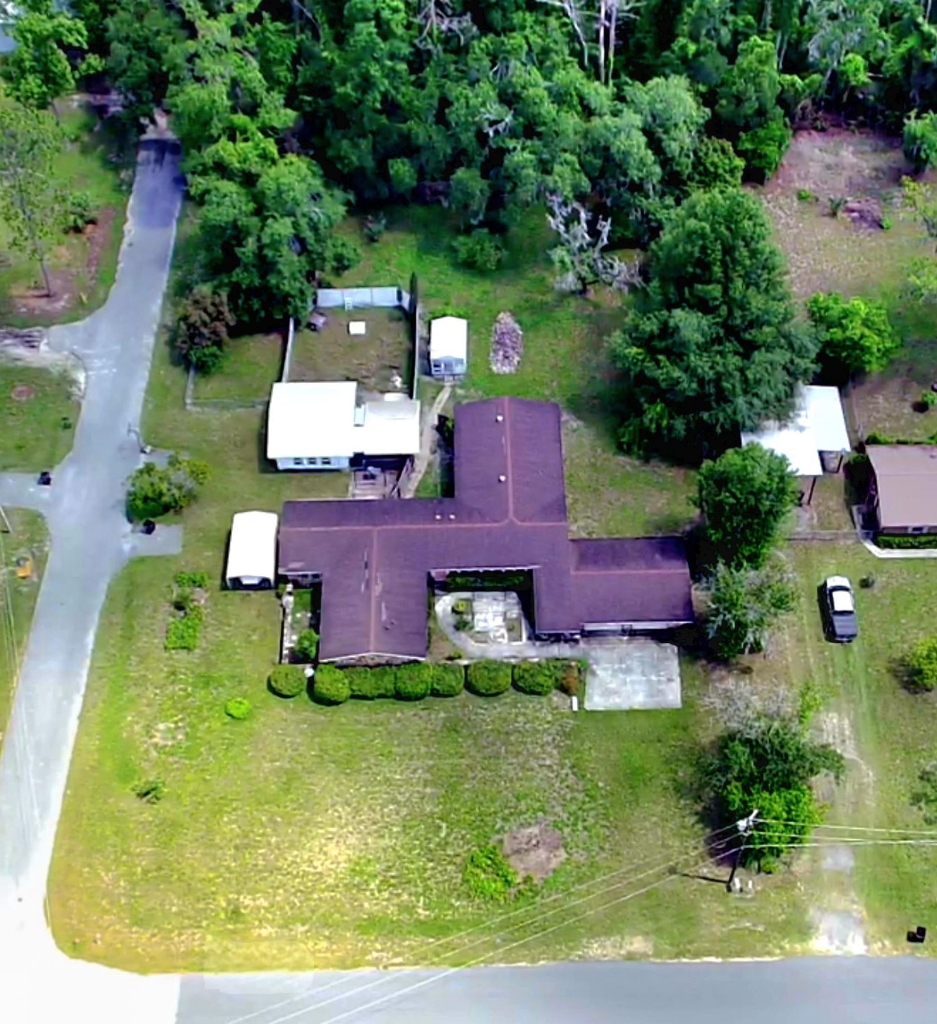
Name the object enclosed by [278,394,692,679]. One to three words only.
house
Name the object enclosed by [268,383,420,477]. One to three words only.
shed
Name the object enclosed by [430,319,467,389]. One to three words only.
shed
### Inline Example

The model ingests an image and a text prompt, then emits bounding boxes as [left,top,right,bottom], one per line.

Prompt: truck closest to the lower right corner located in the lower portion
[827,581,864,652]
